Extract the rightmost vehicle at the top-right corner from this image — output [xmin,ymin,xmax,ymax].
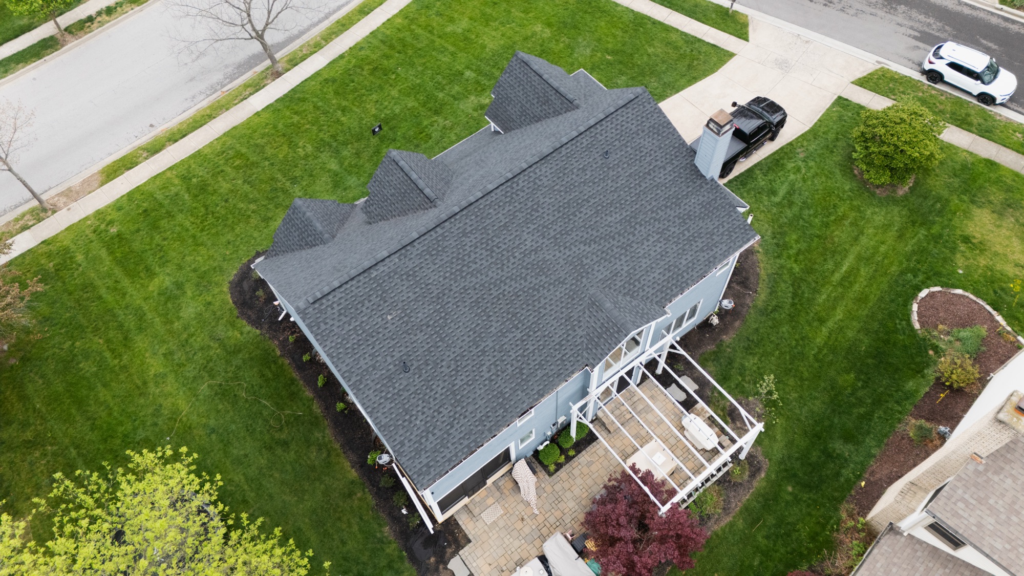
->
[920,42,1018,106]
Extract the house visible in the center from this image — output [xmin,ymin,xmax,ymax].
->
[243,51,762,526]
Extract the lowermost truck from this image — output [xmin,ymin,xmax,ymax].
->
[720,95,795,176]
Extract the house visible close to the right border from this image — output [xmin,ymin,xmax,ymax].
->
[842,349,1024,576]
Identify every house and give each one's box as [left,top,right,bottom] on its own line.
[842,349,1024,576]
[243,51,762,526]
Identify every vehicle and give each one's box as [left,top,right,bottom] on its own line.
[720,95,795,176]
[920,42,1018,106]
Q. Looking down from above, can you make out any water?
No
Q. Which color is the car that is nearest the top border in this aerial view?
white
